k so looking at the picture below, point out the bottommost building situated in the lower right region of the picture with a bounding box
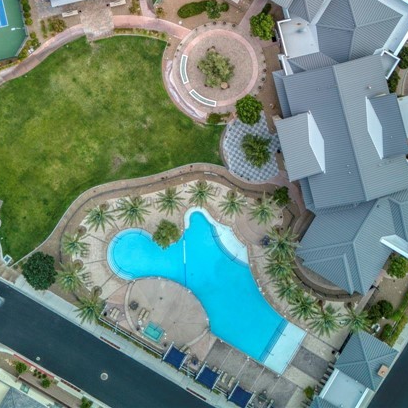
[300,328,399,408]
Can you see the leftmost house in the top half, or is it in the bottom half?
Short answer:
bottom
